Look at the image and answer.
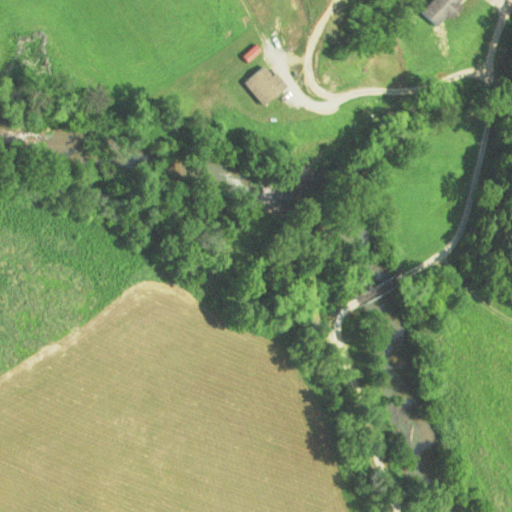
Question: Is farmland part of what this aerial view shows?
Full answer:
Yes, some farmland is visible.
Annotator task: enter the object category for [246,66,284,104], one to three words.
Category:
house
